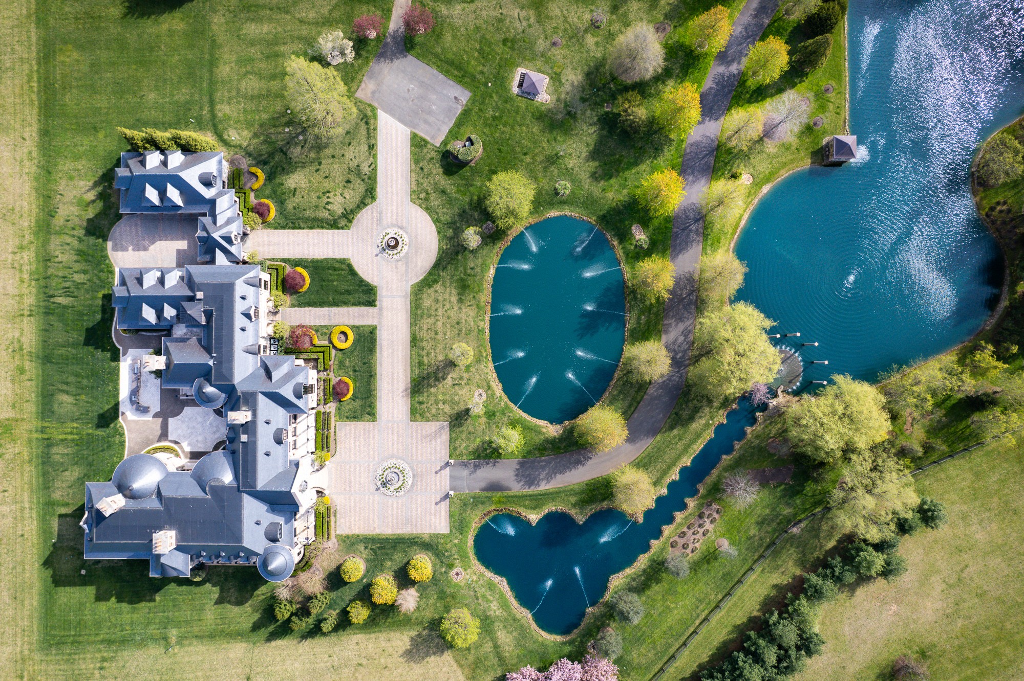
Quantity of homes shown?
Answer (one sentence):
The count of homes comes to 2.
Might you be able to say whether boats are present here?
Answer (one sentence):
No, the frame has no boat in it.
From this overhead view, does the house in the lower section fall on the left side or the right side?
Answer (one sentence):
You can find the house in the lower section on the left side of the picture.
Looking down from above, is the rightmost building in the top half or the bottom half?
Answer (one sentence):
You can find the rightmost building in the top half.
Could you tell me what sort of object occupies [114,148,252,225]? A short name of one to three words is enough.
house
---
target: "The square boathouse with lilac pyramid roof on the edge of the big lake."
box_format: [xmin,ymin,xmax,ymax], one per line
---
[819,135,856,167]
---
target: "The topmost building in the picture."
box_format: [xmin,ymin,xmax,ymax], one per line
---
[512,69,547,97]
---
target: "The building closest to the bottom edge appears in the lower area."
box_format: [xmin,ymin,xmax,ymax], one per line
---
[76,264,329,583]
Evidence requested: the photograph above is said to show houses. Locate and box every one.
[114,148,252,225]
[76,264,329,583]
